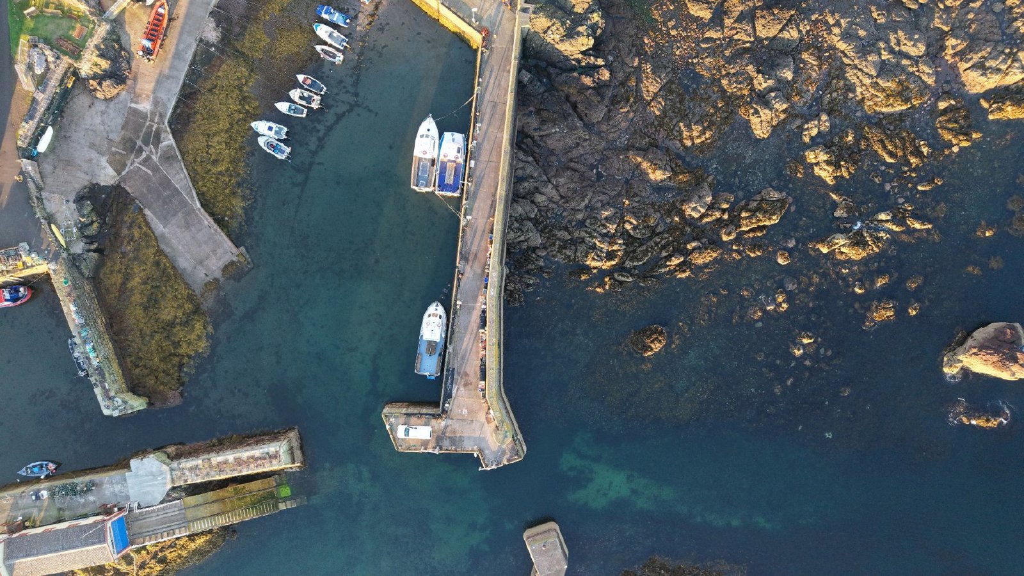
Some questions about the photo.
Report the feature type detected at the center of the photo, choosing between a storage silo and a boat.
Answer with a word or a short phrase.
boat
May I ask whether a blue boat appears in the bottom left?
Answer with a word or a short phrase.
Yes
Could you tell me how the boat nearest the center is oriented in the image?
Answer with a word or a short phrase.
vertically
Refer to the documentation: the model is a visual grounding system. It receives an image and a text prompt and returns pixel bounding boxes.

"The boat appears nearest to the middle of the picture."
[416,302,449,378]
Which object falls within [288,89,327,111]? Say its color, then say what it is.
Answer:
white boat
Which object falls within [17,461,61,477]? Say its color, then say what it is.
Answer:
blue boat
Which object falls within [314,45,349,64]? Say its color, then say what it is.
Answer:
white boat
